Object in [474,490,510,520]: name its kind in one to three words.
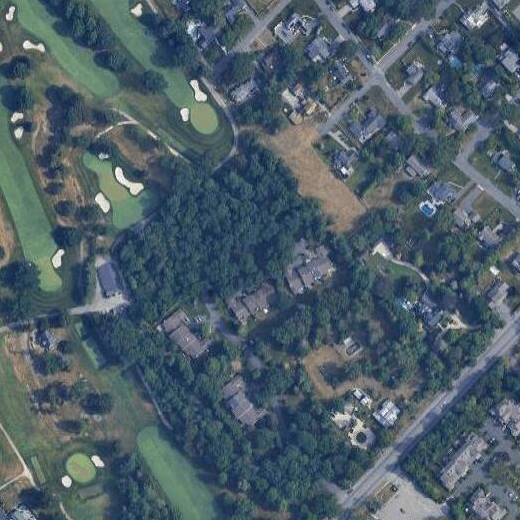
building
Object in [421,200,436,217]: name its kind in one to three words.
swimming pool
